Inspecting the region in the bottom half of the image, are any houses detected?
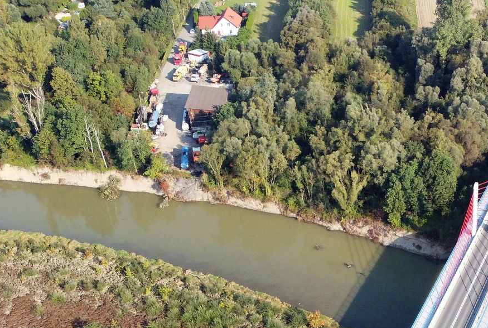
No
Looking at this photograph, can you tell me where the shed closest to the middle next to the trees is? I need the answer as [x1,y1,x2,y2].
[182,90,228,121]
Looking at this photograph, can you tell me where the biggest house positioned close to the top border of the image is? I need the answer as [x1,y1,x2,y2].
[195,11,242,38]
